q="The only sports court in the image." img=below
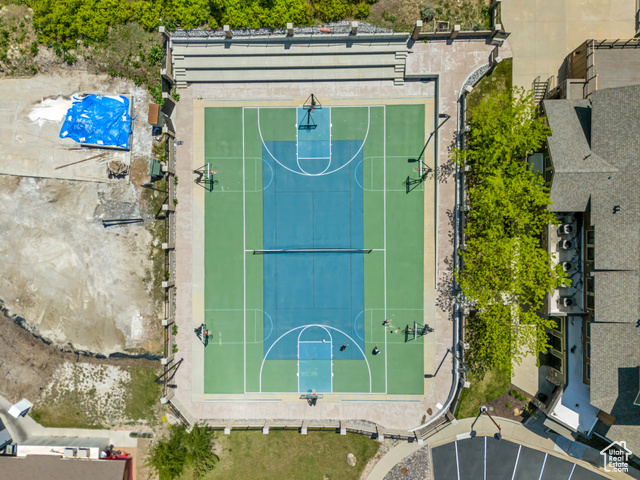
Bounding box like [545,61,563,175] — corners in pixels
[192,97,436,402]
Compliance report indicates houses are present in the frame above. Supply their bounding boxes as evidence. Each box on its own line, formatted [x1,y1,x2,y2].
[0,436,139,480]
[521,35,640,463]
